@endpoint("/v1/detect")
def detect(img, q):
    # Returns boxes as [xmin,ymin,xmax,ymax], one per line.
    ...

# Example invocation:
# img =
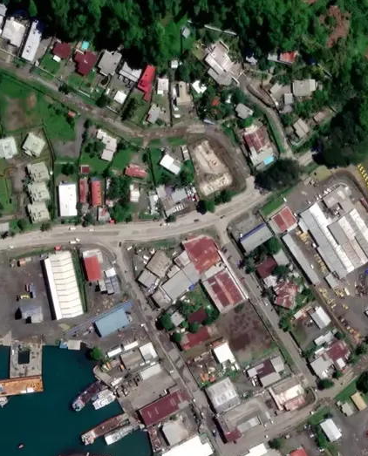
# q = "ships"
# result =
[93,390,113,403]
[80,415,128,443]
[0,376,43,396]
[103,425,132,445]
[72,383,108,409]
[92,396,114,411]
